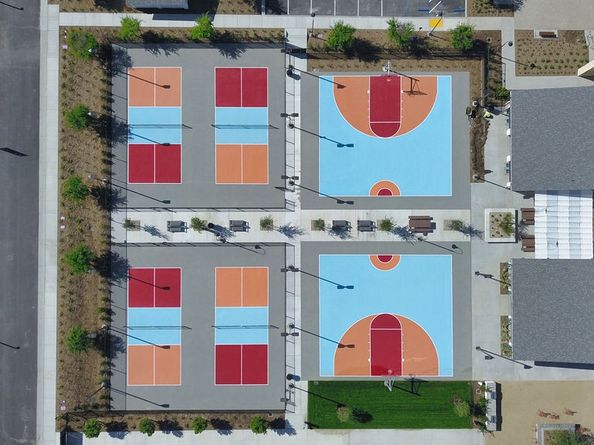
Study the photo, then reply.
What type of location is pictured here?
sports ground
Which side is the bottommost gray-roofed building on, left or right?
right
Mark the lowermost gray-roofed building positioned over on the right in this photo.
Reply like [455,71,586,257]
[506,259,594,364]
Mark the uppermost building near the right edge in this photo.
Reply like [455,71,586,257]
[506,85,594,190]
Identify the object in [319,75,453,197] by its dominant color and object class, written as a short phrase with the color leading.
blue basketball court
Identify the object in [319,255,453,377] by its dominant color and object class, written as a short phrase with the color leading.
blue basketball court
